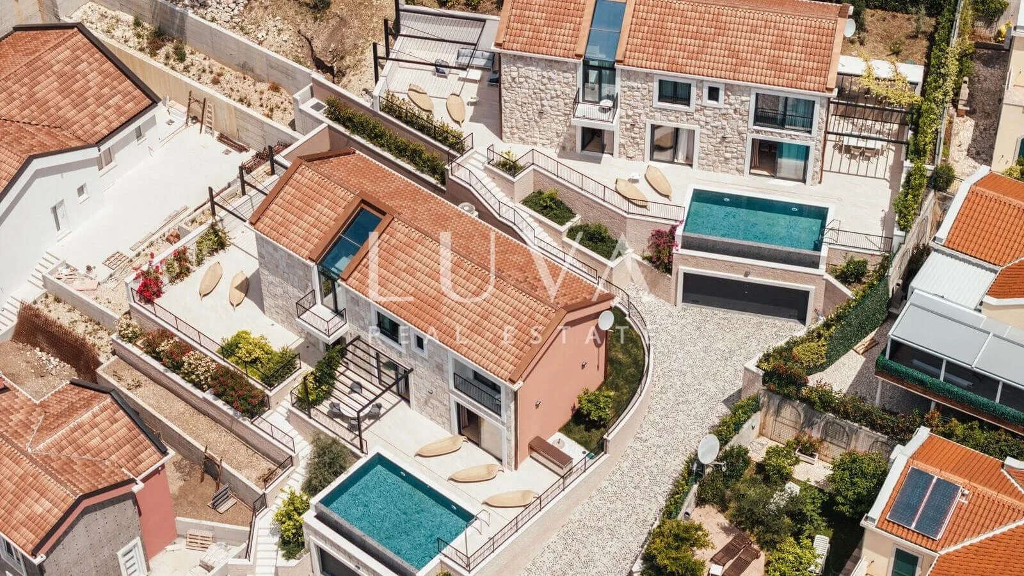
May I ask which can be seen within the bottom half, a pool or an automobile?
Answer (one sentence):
The one visible within the bottom half is a pool.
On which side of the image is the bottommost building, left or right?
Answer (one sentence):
The bottommost building appears in the left half of the scene.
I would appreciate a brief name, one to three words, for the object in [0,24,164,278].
house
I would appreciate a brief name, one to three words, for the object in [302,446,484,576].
swimming pool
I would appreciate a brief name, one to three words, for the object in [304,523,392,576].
building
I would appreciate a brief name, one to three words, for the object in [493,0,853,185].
house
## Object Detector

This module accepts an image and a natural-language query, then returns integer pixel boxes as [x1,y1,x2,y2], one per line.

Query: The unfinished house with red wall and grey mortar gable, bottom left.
[0,368,175,576]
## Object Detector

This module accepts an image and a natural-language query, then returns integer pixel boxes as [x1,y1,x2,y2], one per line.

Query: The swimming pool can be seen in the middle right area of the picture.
[675,184,834,274]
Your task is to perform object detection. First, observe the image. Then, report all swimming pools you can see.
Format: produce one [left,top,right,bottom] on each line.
[675,184,834,274]
[302,446,484,576]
